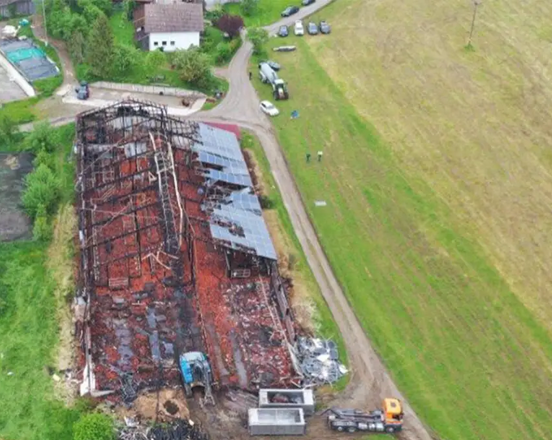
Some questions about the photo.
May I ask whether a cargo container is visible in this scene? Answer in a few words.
Yes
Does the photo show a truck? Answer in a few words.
Yes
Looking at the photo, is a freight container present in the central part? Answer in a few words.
No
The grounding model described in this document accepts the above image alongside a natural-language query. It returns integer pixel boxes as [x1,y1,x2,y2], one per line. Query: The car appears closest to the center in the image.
[259,99,280,118]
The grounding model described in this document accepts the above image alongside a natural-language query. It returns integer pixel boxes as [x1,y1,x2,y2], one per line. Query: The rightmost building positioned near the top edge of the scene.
[134,0,202,51]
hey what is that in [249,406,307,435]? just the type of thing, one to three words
shipping container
